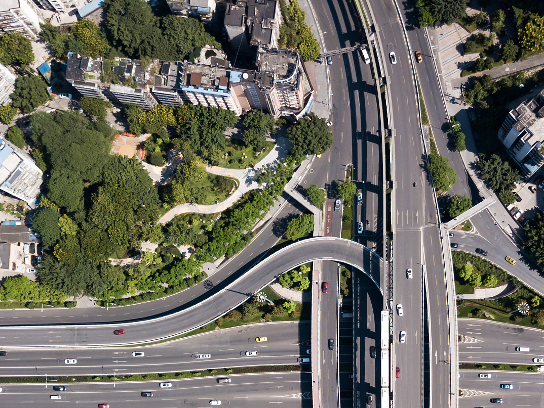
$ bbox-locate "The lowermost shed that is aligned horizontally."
[0,225,42,244]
